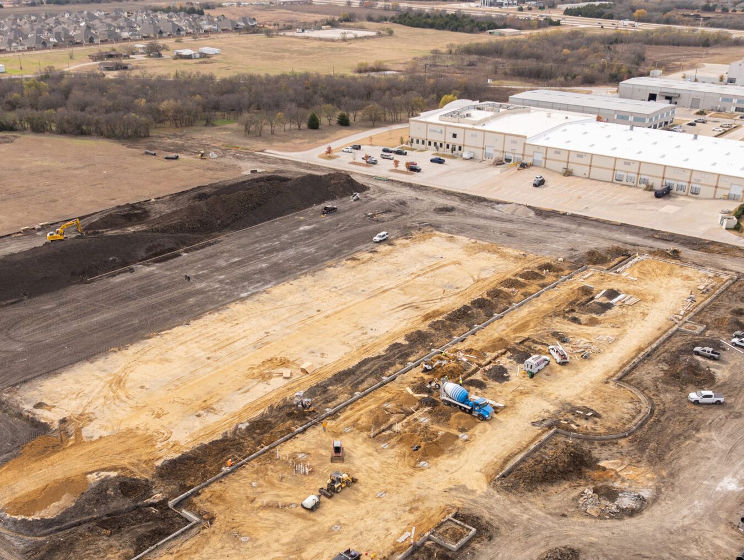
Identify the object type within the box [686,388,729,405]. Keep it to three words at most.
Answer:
vehicle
